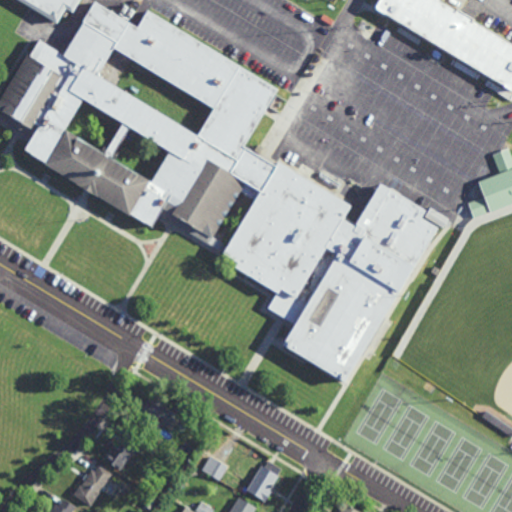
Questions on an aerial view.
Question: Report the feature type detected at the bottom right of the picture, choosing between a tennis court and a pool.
tennis court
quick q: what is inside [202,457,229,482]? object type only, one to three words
building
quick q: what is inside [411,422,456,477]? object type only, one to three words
tennis court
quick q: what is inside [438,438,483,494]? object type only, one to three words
tennis court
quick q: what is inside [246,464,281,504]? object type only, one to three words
house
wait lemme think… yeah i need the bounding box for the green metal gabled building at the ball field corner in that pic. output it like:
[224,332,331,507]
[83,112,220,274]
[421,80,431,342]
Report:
[468,148,512,218]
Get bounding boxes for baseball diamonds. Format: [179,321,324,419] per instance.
[392,204,512,436]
